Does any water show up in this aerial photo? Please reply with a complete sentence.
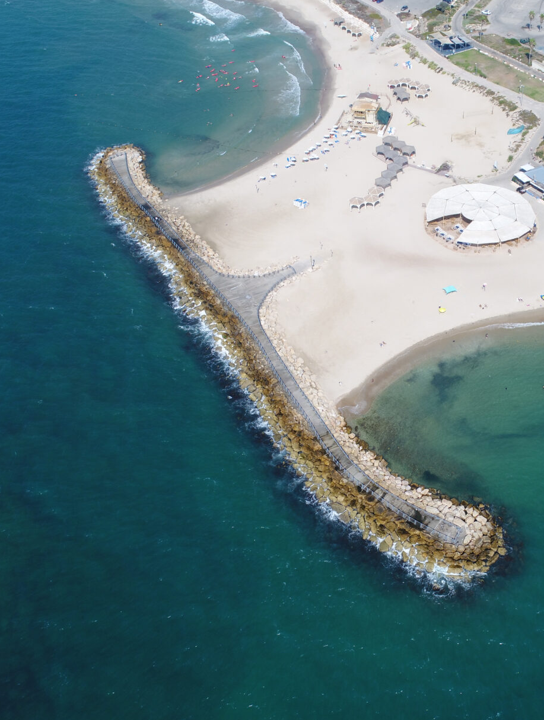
Yes, the picture does contain water.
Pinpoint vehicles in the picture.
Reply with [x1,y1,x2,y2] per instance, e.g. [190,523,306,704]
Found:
[481,8,492,13]
[513,184,527,193]
[400,3,408,9]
